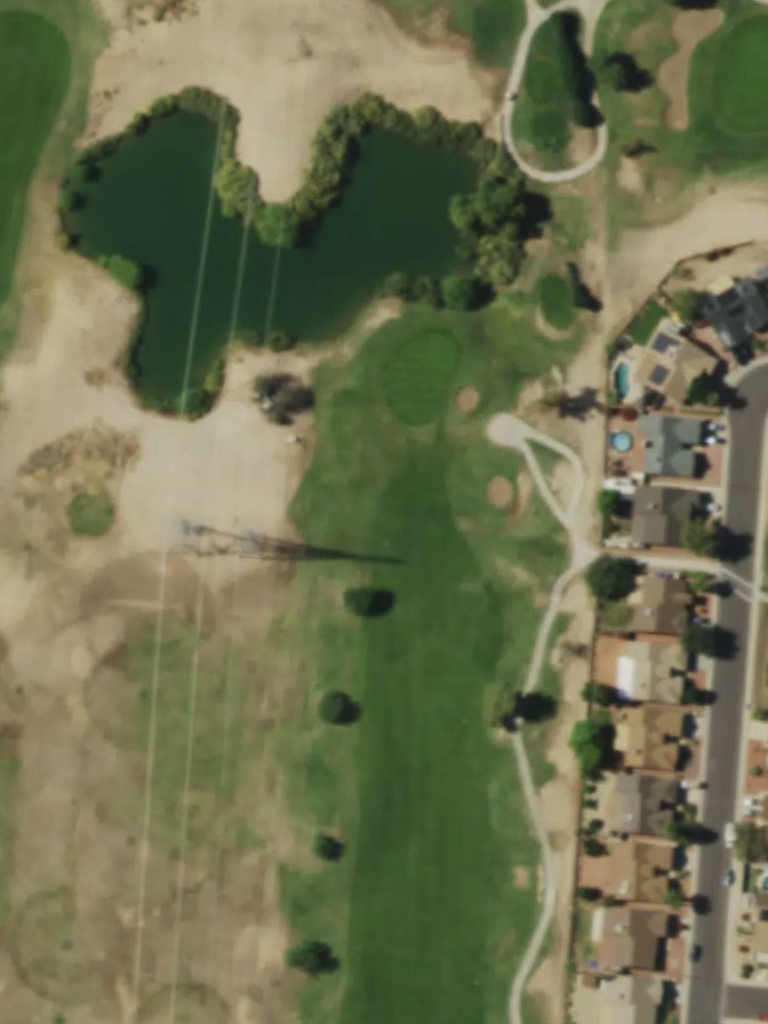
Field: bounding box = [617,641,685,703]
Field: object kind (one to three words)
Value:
house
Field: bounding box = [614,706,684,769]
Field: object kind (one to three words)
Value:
house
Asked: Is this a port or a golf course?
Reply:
golf course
